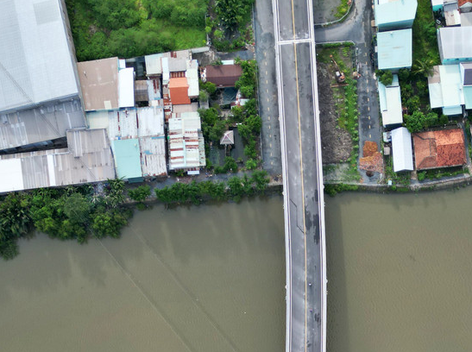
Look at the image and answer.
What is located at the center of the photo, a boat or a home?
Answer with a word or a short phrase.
home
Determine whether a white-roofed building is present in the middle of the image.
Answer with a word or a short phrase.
Yes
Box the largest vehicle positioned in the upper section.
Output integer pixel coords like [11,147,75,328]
[327,51,348,84]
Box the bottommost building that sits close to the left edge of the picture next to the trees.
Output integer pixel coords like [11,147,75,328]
[0,128,119,196]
